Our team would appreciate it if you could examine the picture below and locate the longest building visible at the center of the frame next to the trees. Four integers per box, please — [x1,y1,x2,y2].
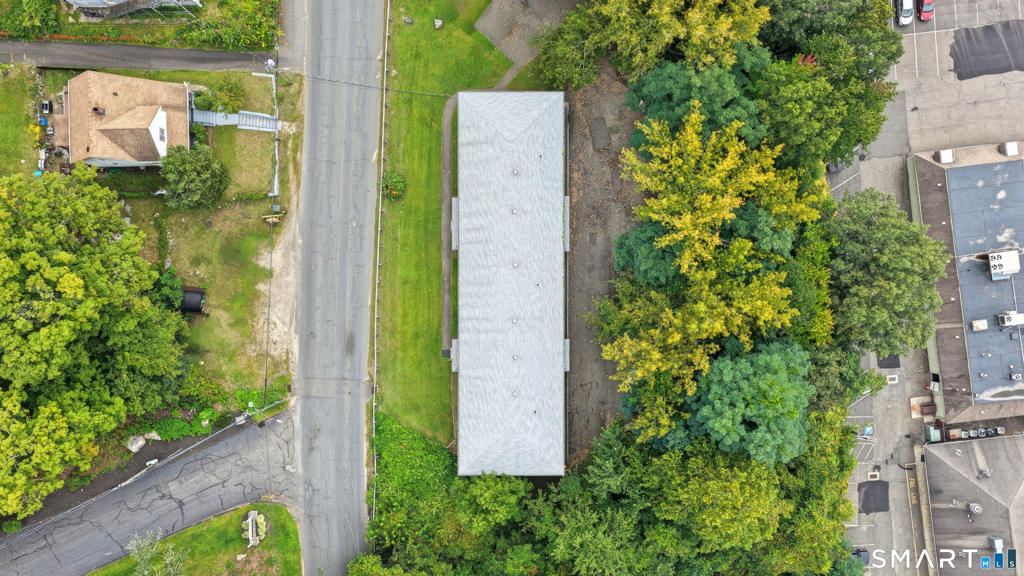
[451,91,570,476]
